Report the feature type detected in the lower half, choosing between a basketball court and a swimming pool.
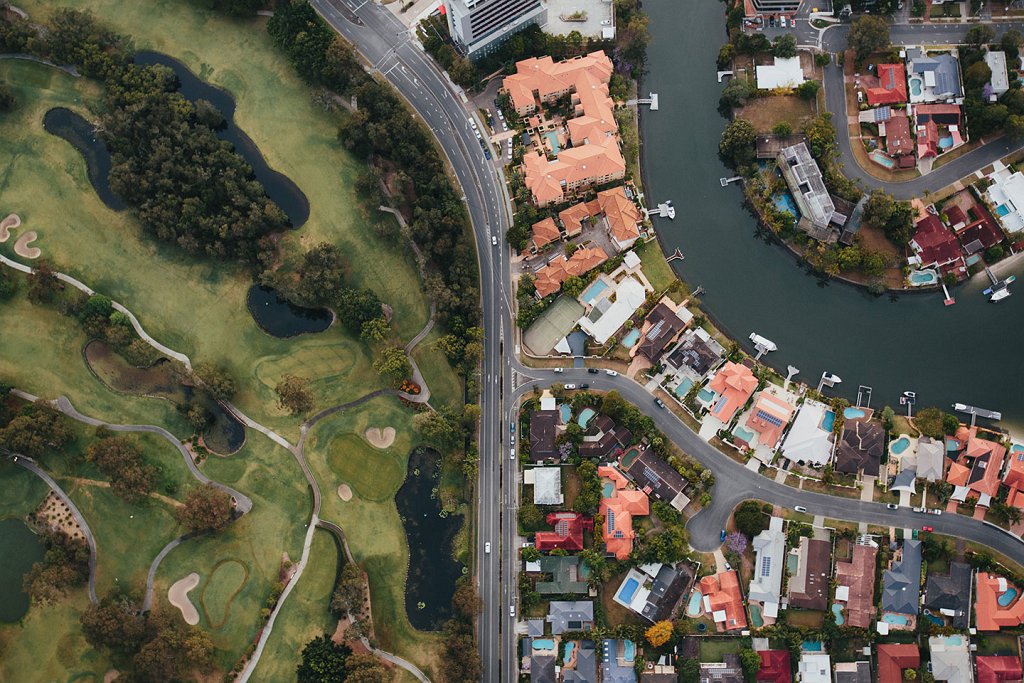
swimming pool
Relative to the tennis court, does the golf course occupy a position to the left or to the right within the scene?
left of it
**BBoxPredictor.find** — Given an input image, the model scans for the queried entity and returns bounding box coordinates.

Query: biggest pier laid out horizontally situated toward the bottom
[953,403,1002,427]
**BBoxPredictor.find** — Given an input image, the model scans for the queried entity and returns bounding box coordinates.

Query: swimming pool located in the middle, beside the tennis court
[582,279,608,302]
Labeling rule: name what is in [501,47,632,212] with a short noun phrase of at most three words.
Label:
building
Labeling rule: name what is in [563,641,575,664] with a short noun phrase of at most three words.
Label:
swimming pool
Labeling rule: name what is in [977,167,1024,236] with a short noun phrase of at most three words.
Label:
house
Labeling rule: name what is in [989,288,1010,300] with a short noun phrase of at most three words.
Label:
boat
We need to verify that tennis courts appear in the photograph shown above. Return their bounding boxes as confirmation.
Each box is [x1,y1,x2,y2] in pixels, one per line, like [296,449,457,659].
[523,293,586,355]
